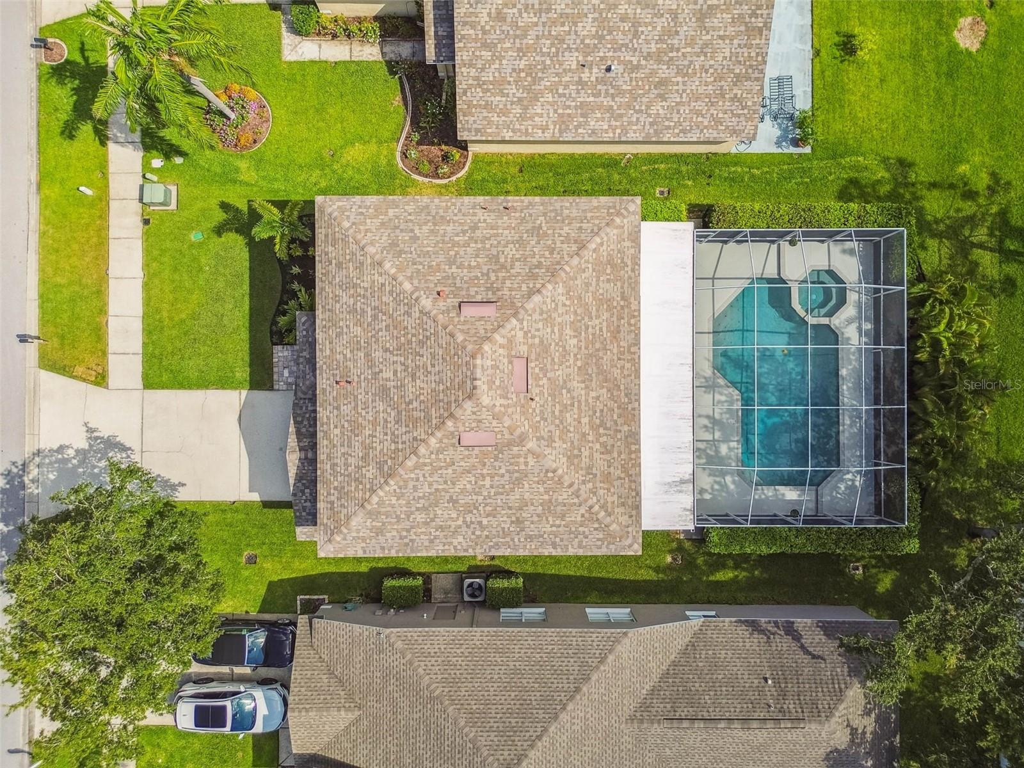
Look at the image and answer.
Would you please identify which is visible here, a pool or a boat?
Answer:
pool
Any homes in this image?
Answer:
Yes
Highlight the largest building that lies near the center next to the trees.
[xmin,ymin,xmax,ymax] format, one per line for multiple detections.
[286,196,697,556]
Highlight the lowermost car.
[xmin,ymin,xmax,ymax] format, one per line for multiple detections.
[174,675,289,735]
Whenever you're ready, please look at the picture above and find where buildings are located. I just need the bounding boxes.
[289,600,899,768]
[286,196,697,556]
[307,0,774,153]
